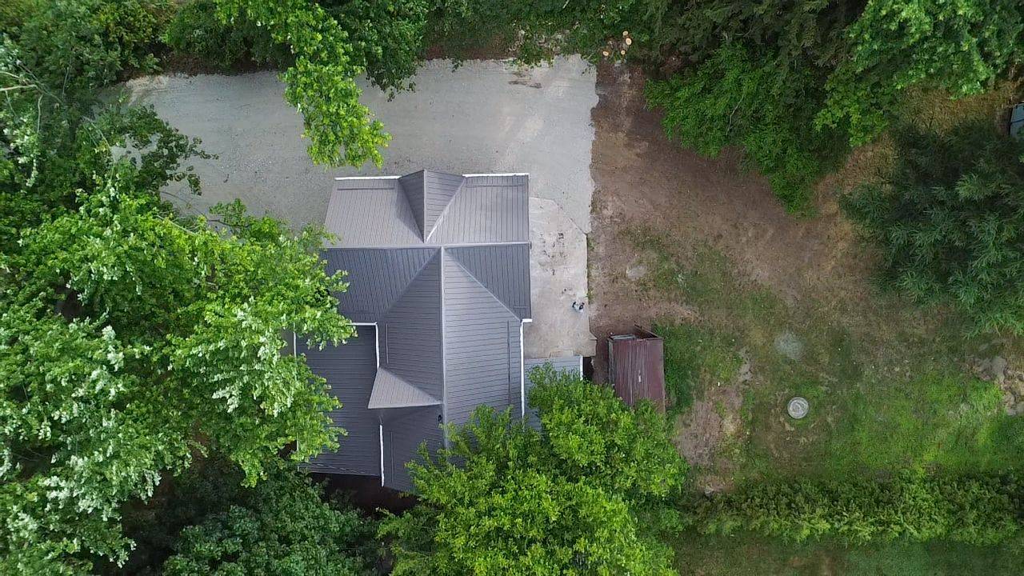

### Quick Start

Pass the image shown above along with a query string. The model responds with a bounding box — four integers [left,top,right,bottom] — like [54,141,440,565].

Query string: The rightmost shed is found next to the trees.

[608,319,666,417]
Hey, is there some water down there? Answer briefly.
No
